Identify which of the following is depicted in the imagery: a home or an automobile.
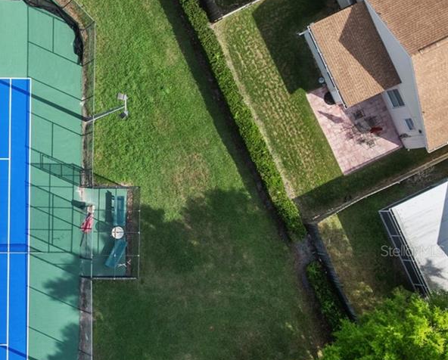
home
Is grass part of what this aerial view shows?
Yes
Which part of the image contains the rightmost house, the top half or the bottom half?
bottom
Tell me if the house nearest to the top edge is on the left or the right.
right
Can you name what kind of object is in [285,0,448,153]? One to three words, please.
house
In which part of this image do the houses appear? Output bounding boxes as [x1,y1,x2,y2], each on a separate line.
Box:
[285,0,448,153]
[379,178,448,322]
